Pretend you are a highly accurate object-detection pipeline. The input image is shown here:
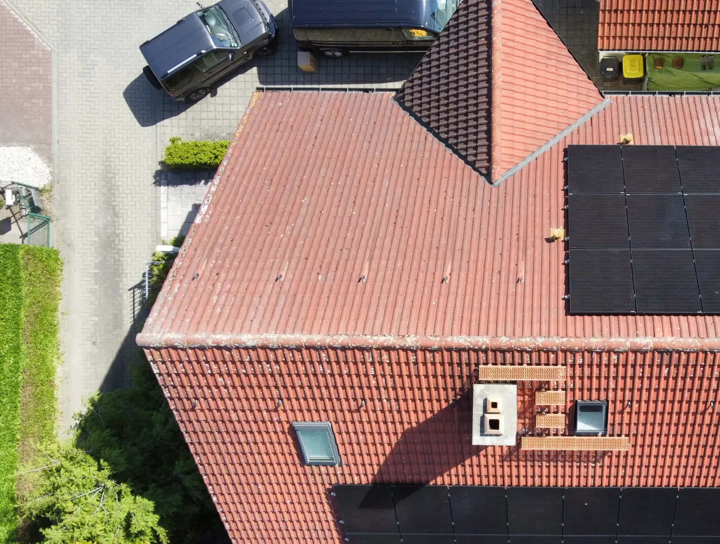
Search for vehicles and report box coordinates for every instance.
[288,0,456,57]
[136,0,284,105]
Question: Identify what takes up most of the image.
buildings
